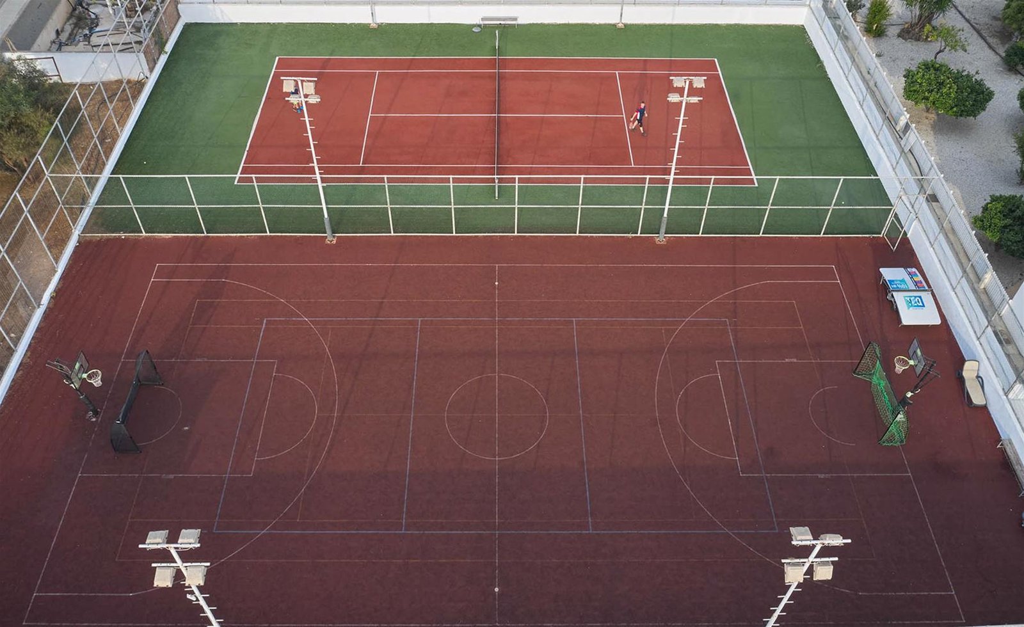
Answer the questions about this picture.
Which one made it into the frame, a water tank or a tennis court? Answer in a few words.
tennis court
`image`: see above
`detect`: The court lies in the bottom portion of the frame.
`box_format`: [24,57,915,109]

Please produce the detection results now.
[0,234,1024,627]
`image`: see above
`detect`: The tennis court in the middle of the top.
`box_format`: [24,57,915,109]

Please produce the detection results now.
[80,22,907,237]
